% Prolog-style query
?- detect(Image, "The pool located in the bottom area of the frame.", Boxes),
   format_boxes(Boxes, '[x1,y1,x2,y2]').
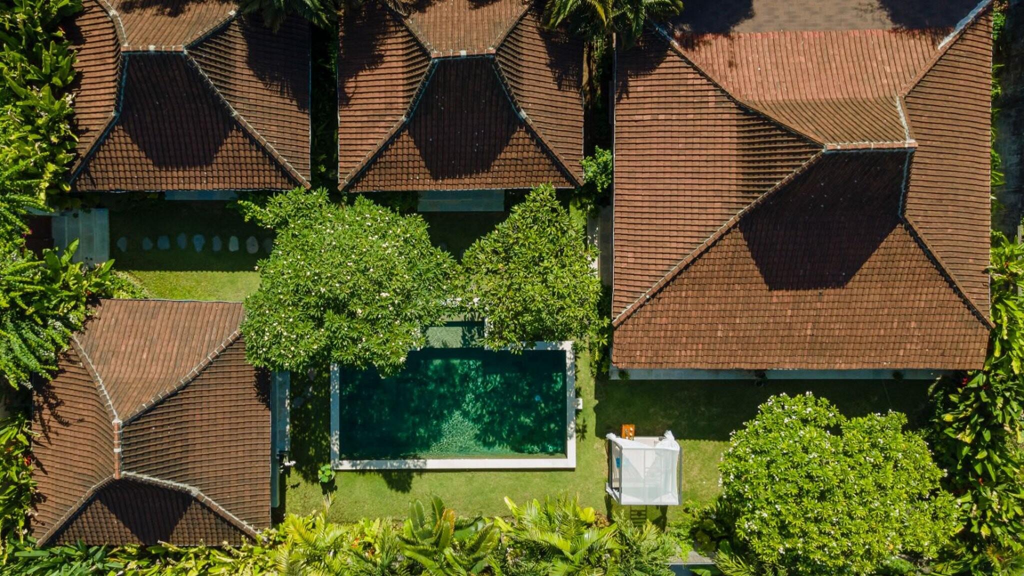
[330,303,576,469]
